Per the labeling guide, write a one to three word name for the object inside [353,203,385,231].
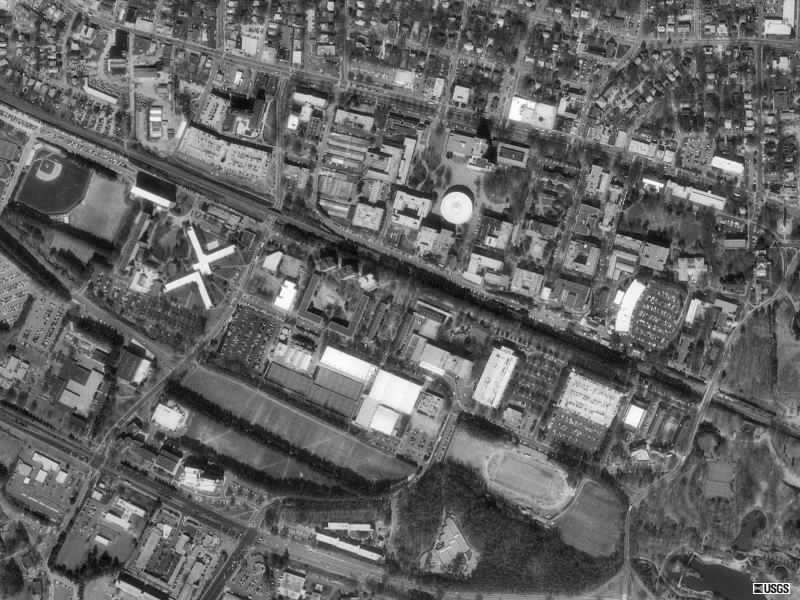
building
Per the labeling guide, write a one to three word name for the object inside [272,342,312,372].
greenhouse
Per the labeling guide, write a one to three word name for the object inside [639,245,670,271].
building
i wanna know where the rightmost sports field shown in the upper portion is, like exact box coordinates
[67,172,128,238]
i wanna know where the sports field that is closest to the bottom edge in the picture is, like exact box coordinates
[556,483,621,556]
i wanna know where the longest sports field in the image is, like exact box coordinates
[182,366,415,479]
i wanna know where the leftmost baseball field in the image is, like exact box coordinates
[16,153,93,215]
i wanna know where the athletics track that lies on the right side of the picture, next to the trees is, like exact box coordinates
[486,445,573,509]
